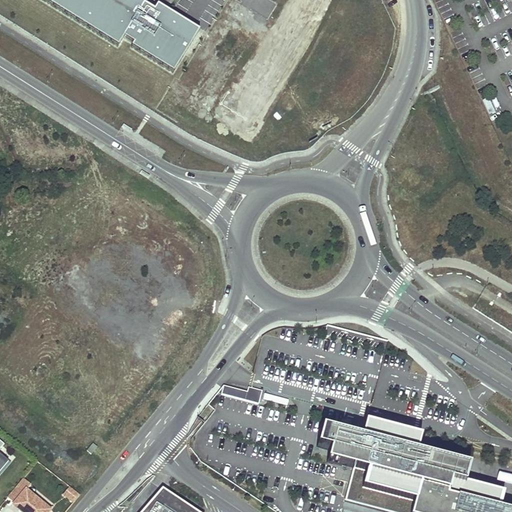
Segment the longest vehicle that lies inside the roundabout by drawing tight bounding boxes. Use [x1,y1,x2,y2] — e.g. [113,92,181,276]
[360,205,376,246]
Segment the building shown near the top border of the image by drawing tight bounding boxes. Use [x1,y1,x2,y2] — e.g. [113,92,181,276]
[40,0,204,74]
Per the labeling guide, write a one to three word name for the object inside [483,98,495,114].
vehicle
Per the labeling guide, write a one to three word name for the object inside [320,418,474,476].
building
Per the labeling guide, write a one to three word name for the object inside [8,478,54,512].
house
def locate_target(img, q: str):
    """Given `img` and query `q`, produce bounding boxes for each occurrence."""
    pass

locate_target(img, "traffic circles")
[228,170,378,319]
